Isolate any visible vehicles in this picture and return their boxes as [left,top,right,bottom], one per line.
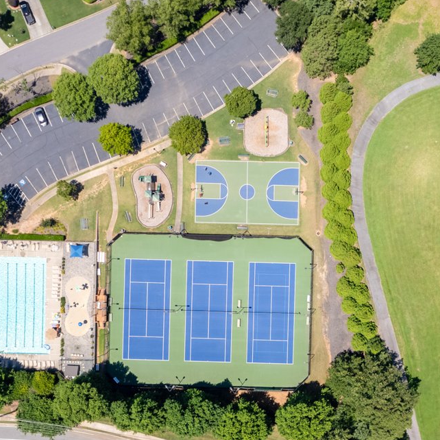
[35,106,49,127]
[20,1,37,26]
